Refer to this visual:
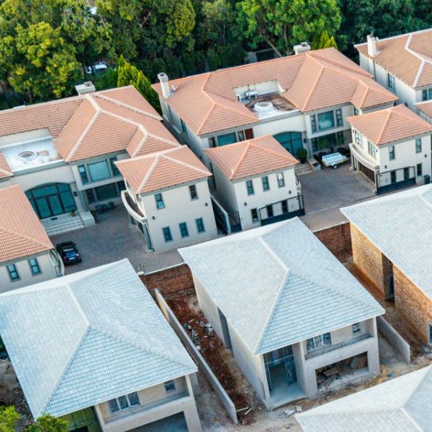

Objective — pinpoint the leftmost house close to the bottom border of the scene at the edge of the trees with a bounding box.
[0,260,202,432]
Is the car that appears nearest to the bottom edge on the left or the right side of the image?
left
